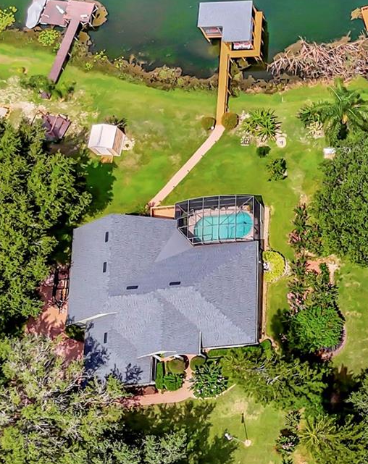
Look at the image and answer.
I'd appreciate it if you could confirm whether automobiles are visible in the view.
No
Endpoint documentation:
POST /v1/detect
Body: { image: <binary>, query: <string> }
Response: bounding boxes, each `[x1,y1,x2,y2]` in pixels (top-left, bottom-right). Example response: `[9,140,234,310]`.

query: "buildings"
[67,214,263,385]
[86,121,128,169]
[198,0,266,128]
